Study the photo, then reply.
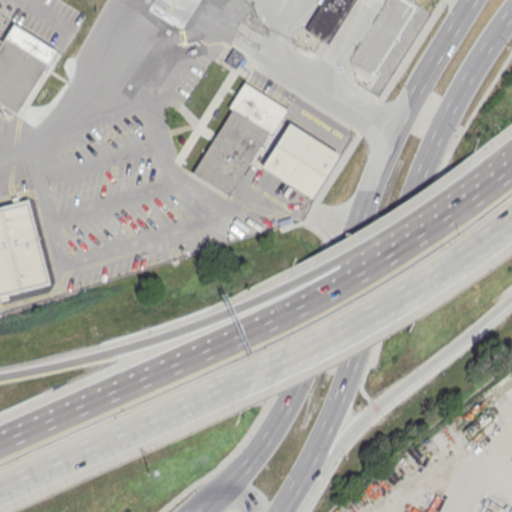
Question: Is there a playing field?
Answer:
No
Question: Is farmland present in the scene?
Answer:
No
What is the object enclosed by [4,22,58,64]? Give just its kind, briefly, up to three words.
building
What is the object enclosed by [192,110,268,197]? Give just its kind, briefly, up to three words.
building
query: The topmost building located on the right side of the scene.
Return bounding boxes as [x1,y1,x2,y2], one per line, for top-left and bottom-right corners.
[304,0,358,44]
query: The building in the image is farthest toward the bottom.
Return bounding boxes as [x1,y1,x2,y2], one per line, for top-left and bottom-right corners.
[0,194,54,303]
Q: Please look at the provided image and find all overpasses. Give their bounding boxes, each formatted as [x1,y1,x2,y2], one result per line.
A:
[228,144,486,418]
